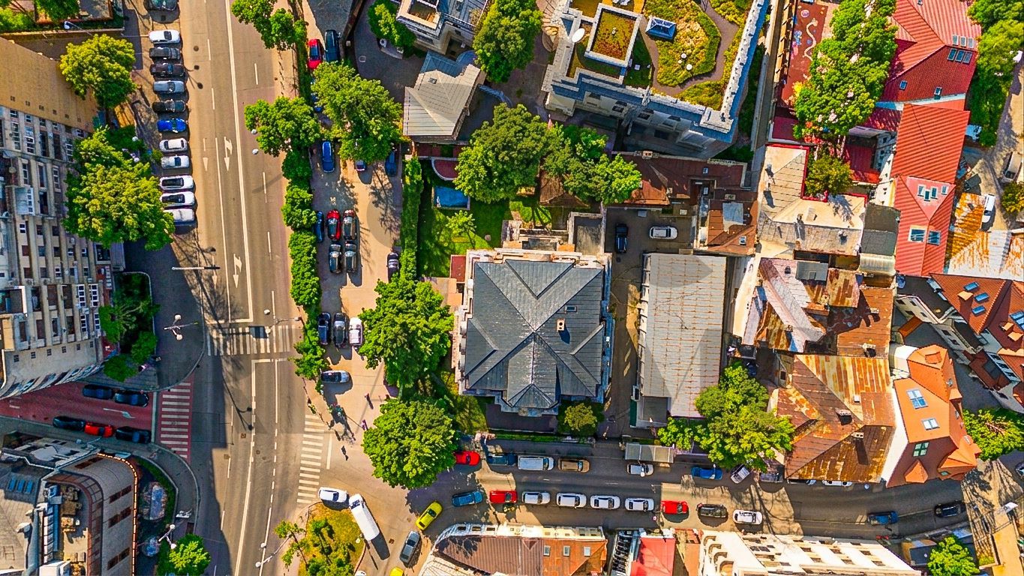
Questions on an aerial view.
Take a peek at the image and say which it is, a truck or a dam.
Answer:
truck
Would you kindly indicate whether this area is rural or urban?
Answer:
urban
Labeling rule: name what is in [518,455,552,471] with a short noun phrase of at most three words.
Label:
vehicle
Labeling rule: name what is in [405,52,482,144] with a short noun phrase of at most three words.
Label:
building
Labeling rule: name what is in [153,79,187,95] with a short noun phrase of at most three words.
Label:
car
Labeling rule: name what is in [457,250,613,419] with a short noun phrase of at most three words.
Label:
house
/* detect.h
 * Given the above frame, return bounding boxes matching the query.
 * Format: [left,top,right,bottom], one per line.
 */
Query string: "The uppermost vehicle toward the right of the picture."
[997,150,1024,186]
